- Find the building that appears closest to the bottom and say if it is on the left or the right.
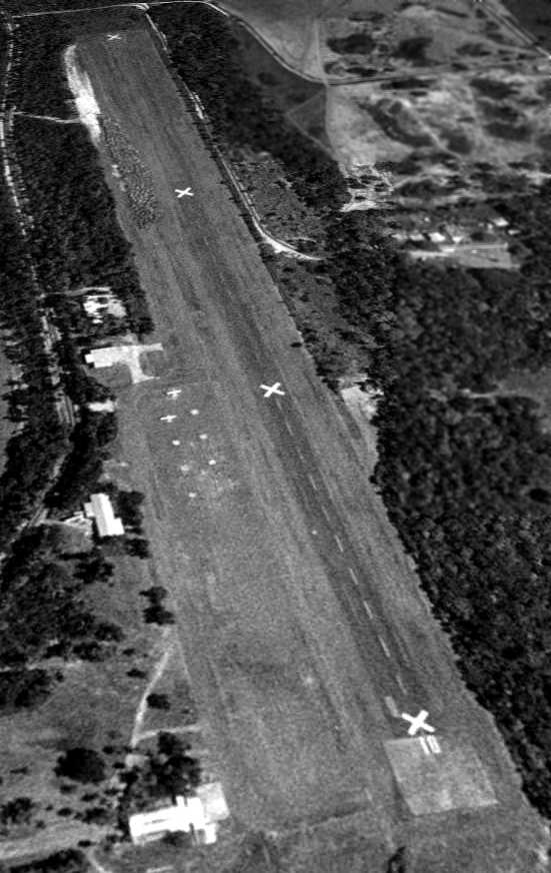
left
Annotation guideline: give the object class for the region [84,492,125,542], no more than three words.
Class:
shed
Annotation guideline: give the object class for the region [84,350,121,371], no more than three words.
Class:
hangar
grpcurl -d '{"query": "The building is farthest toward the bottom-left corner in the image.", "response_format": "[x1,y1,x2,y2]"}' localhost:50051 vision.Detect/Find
[128,793,218,847]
